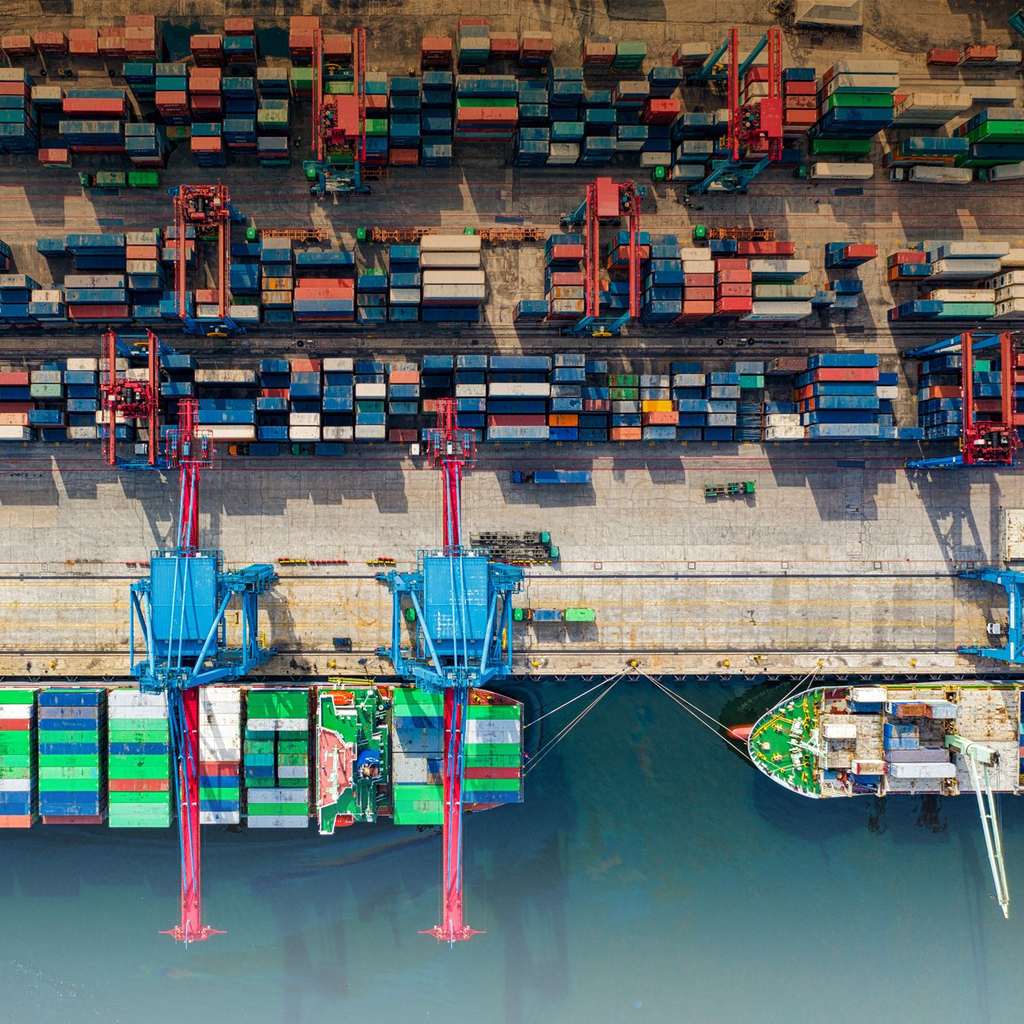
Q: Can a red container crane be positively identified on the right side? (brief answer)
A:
Yes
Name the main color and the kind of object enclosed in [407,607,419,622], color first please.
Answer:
green vehicle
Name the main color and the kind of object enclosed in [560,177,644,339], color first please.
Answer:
red container crane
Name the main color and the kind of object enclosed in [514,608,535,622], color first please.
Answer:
green vehicle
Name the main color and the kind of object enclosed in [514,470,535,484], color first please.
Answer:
blue vehicle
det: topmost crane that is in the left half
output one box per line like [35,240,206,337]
[305,20,372,194]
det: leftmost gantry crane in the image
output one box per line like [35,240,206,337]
[99,325,181,472]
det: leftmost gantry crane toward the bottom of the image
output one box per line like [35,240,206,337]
[127,398,279,960]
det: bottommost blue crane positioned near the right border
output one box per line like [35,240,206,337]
[959,573,1024,667]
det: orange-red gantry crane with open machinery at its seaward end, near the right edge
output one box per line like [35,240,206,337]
[905,325,1020,472]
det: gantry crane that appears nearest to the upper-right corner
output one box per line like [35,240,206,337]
[687,20,783,194]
